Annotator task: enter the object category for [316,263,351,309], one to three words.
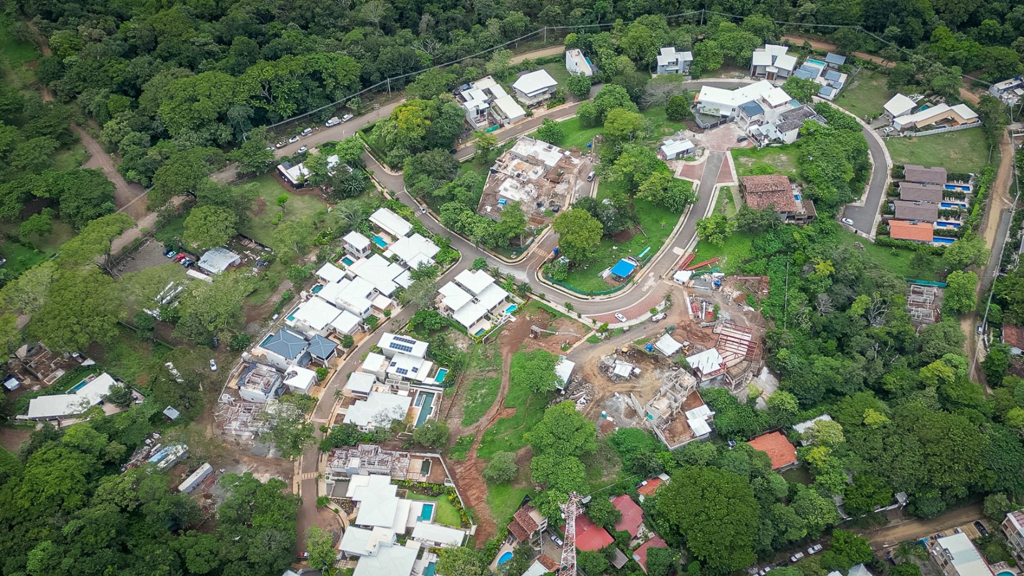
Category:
house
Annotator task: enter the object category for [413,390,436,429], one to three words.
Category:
swimming pool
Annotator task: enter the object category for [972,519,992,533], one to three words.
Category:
car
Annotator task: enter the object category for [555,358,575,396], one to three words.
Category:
shed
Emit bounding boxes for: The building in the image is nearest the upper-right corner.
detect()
[987,75,1024,106]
